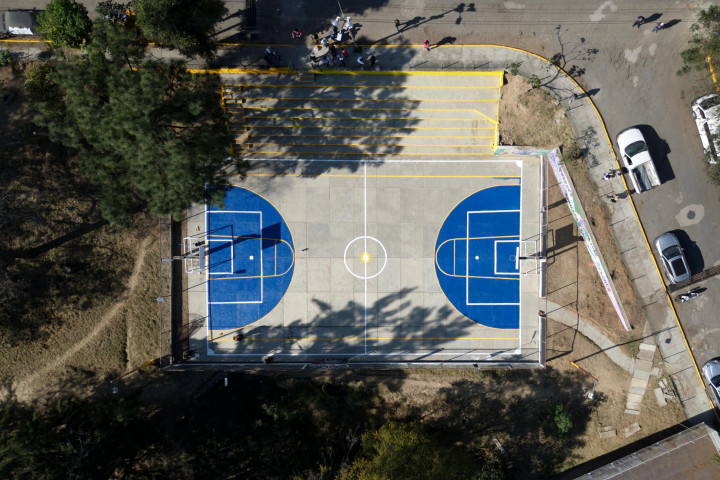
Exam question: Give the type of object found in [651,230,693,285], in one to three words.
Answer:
car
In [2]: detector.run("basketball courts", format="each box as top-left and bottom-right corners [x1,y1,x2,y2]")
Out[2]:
[188,154,541,361]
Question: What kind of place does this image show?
sports ground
